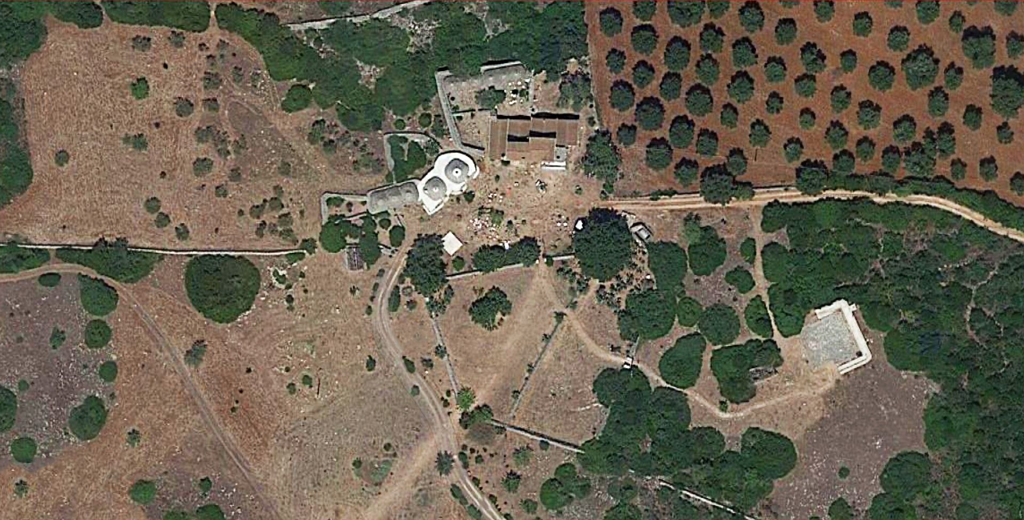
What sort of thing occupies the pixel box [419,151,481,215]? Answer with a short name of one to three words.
house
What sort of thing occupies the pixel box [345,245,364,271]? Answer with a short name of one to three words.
shed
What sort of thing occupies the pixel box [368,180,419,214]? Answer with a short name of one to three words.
barn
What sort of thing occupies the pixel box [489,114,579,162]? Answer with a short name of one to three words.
house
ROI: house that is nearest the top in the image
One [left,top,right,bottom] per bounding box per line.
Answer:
[479,61,528,90]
